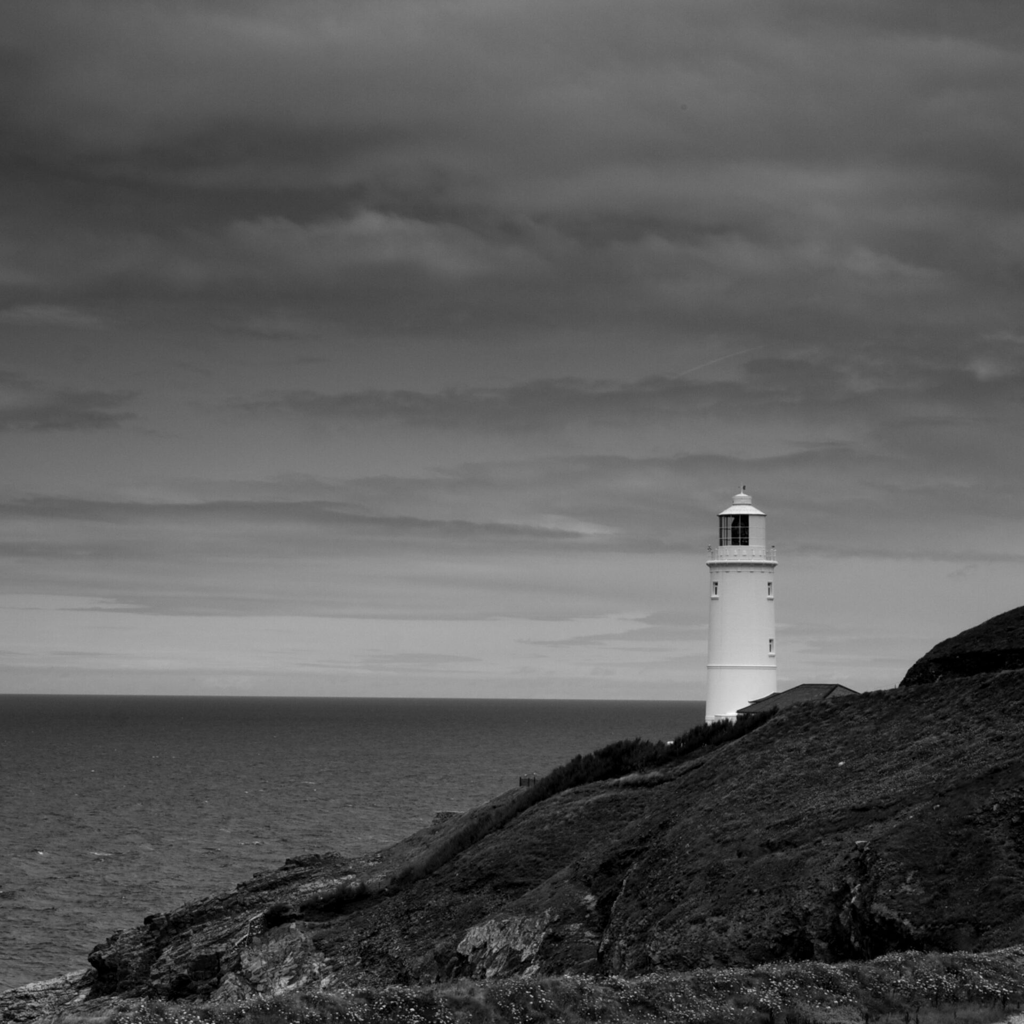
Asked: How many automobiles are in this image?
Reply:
none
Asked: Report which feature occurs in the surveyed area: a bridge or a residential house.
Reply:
residential house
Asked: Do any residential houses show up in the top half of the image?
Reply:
No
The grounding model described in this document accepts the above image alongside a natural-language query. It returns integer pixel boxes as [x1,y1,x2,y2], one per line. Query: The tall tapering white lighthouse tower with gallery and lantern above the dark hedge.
[704,485,778,732]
